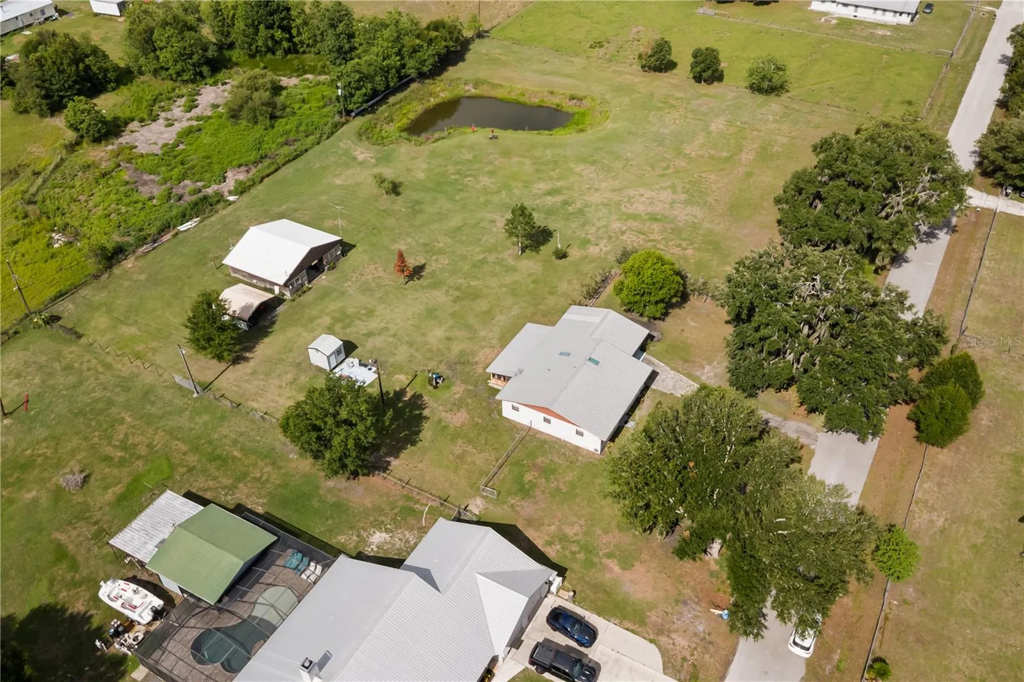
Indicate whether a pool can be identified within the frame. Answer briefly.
Yes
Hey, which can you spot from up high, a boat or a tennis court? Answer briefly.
boat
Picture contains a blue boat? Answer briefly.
No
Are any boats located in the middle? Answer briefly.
No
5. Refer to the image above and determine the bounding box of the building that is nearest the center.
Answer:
[487,307,654,454]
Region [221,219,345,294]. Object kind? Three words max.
barn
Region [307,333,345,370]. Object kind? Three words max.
shed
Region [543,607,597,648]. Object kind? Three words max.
car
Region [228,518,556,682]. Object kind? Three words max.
house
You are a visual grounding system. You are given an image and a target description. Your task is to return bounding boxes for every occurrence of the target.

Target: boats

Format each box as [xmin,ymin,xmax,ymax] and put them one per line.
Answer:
[99,583,164,624]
